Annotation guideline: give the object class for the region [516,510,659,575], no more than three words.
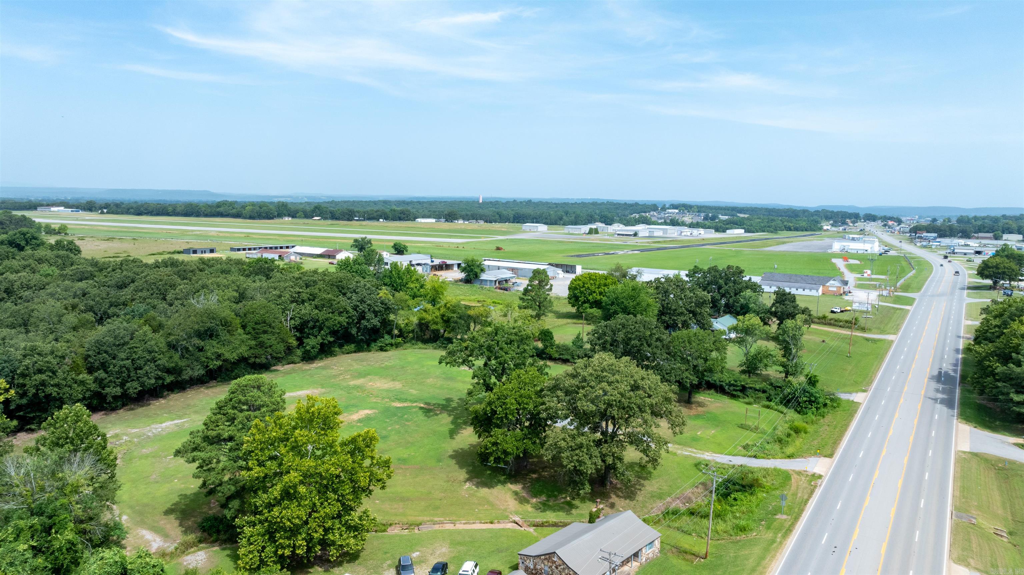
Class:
house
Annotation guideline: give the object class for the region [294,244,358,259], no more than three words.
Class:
barn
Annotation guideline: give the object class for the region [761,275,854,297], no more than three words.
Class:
building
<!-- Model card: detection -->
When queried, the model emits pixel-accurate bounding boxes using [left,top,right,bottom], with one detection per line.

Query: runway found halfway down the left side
[35,219,466,243]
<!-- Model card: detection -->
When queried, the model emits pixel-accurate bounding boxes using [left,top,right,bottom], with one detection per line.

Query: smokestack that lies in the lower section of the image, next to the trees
[585,491,603,523]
